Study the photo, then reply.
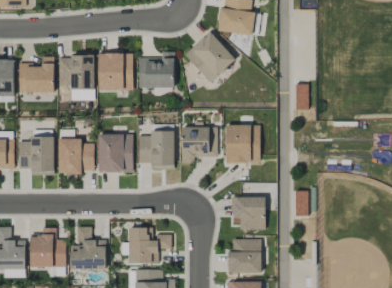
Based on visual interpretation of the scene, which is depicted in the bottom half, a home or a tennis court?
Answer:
home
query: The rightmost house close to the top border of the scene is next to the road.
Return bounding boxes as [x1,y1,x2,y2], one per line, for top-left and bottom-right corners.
[220,0,268,36]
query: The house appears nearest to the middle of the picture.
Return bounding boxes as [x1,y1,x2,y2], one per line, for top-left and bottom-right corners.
[182,120,220,164]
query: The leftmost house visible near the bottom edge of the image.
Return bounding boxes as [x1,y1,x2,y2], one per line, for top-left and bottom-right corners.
[0,228,26,278]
